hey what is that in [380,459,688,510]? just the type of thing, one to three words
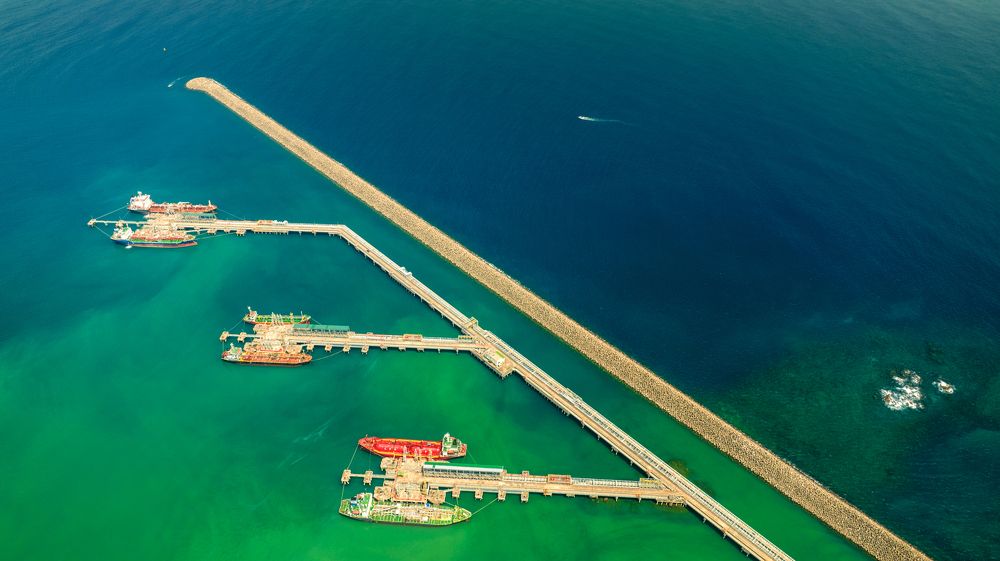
pier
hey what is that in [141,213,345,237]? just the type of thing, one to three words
pier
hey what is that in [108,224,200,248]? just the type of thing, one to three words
ship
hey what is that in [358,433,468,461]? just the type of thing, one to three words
ship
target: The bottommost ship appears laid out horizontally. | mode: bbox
[340,500,472,528]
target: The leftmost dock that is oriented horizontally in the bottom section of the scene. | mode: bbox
[250,324,476,357]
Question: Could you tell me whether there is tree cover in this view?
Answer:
No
